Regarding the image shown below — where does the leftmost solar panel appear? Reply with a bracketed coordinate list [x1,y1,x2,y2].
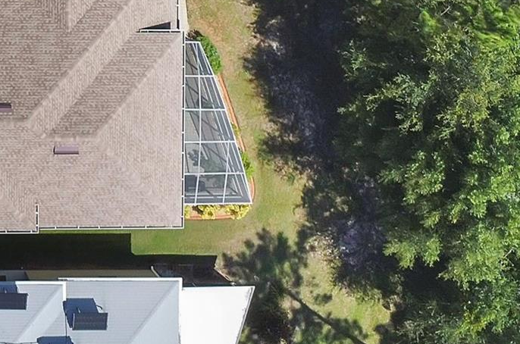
[0,282,27,311]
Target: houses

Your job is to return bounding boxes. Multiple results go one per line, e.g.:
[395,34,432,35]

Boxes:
[0,0,186,237]
[0,266,253,344]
